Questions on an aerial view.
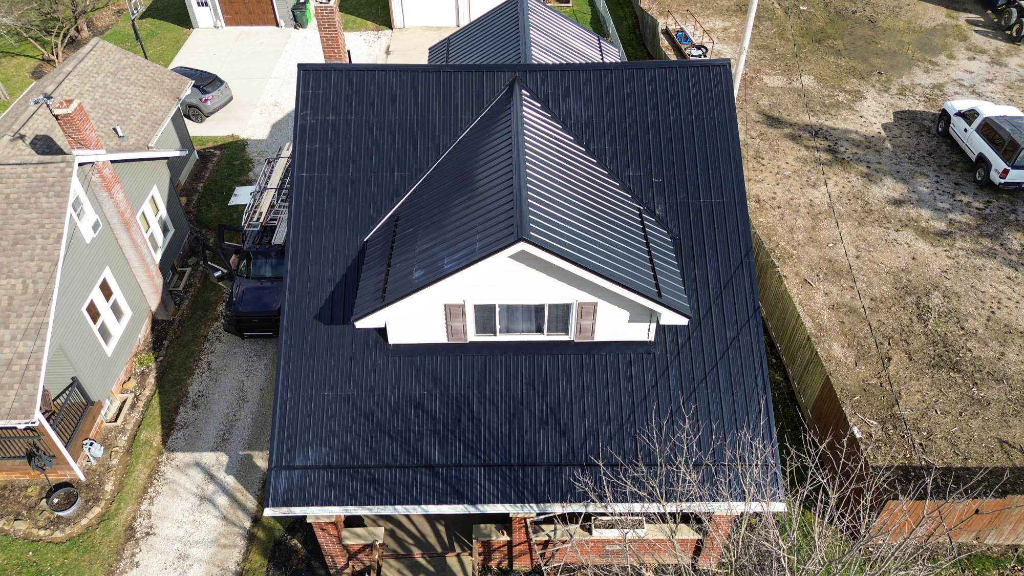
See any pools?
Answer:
No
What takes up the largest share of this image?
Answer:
buildings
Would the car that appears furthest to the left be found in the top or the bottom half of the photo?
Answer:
top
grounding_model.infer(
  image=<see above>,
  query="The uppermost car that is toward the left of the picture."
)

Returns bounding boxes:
[173,67,237,122]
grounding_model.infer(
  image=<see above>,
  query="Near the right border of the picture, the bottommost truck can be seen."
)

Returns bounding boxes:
[935,100,1024,193]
